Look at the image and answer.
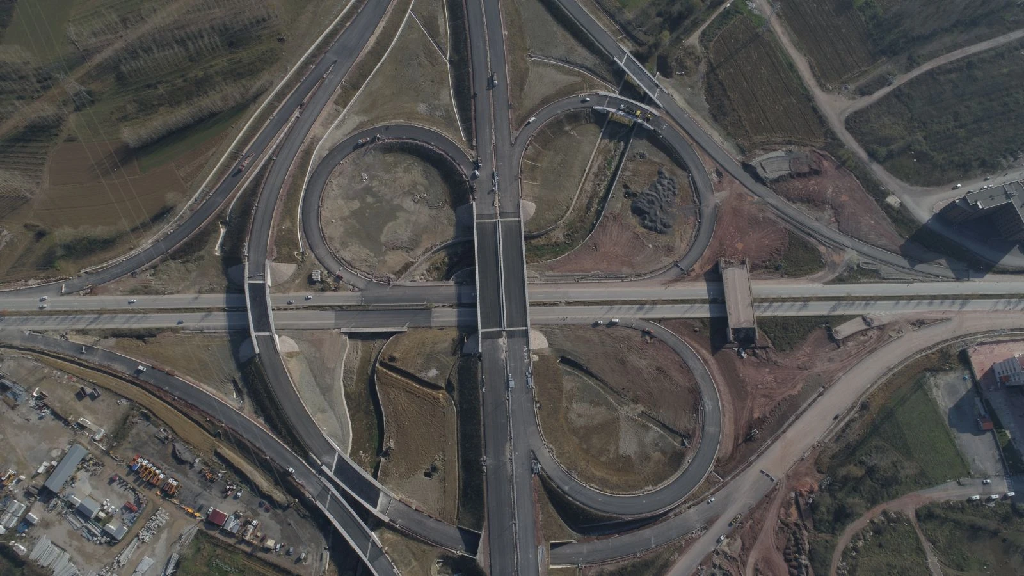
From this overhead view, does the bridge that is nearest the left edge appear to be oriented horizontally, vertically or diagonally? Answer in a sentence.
The bridge that is nearest the left edge runs vertically in the image.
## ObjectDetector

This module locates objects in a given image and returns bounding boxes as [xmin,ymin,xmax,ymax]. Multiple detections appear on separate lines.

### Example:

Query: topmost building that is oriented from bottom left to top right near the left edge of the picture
[44,445,94,493]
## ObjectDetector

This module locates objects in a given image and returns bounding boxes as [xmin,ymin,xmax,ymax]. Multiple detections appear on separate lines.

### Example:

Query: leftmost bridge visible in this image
[245,260,281,354]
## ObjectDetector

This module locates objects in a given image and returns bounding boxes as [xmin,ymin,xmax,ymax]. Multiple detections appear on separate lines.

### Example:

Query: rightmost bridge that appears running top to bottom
[715,259,758,347]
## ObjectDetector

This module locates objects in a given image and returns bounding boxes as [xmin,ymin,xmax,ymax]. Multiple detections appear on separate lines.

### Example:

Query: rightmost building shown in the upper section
[943,179,1024,243]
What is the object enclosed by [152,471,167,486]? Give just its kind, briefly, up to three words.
vehicle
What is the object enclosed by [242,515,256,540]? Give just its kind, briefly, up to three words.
vehicle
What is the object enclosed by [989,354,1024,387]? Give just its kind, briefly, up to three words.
building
